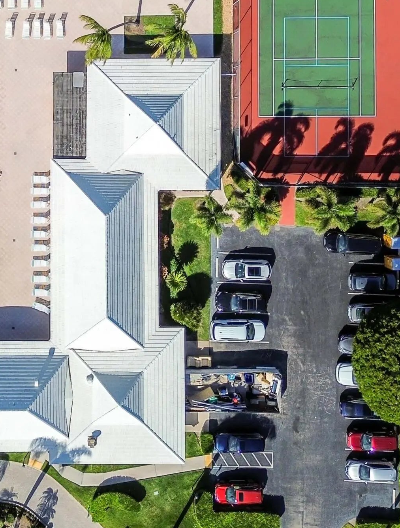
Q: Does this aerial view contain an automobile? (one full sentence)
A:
Yes, I can see an automobile in this picture.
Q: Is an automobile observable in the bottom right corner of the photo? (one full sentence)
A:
Yes, you'll find an automobile in the bottom right corner of the photo.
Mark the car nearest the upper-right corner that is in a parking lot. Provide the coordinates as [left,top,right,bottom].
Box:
[324,230,382,257]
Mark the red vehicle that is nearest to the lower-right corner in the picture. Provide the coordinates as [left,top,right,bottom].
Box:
[346,428,397,455]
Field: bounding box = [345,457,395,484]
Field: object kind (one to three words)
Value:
car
